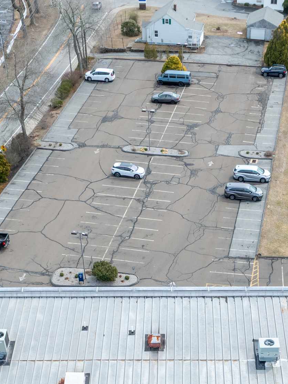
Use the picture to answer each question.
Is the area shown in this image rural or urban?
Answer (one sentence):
From above, the setting appears urban.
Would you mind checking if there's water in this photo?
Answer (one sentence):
No, no water is visible.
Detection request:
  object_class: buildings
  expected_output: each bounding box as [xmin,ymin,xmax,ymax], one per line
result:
[0,286,288,384]
[236,0,288,10]
[133,0,207,47]
[246,9,285,41]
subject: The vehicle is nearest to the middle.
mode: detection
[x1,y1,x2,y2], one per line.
[111,159,148,177]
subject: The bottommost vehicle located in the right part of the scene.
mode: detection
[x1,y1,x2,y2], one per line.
[224,180,265,200]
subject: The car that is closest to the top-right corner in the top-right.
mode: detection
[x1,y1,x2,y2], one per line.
[261,61,288,76]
